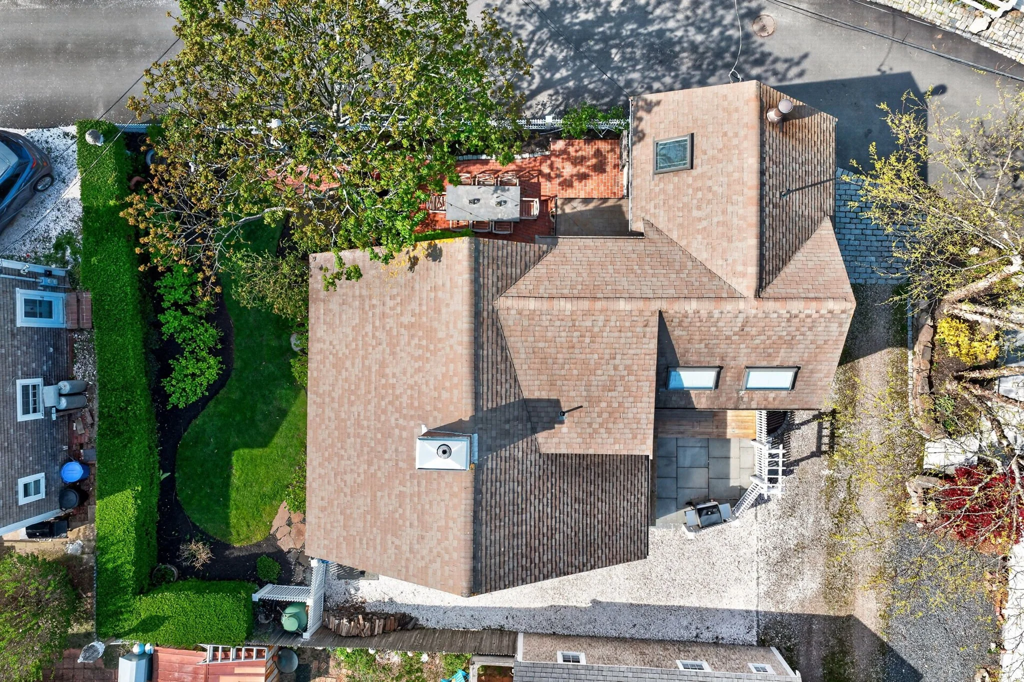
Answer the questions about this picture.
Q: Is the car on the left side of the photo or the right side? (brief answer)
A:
left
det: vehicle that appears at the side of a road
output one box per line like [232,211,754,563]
[0,130,58,244]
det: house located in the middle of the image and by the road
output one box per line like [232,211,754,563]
[305,69,865,597]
